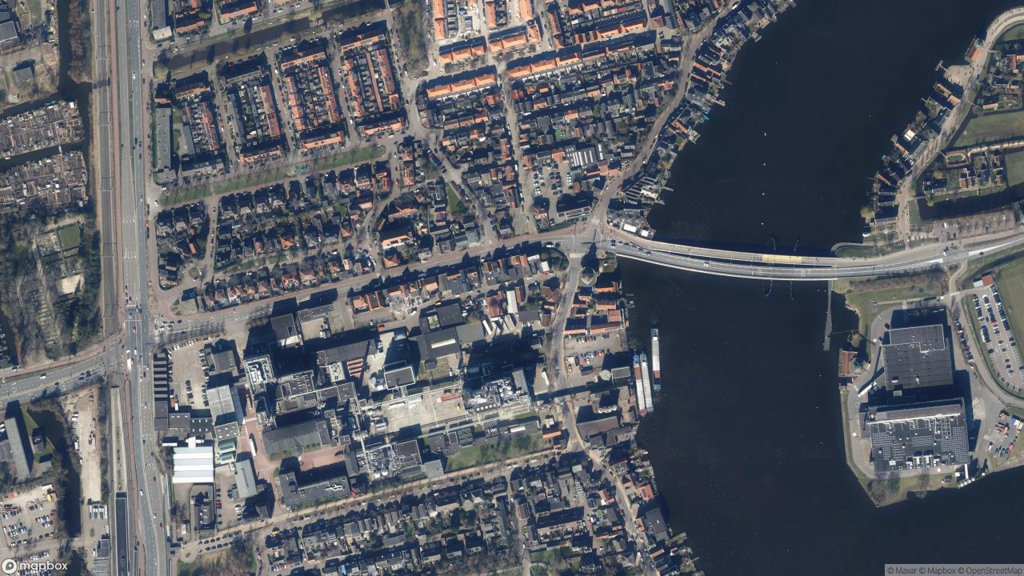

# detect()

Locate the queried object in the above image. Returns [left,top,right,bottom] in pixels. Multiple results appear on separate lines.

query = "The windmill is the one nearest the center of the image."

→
[578,268,597,286]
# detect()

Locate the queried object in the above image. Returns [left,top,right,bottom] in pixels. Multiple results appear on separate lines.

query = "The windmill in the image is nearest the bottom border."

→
[849,357,867,374]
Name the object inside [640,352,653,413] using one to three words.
ship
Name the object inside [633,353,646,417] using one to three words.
ship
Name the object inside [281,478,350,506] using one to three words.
building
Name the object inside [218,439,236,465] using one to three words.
shed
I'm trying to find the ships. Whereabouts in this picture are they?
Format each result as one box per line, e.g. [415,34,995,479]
[651,328,661,391]
[640,352,653,413]
[633,353,646,417]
